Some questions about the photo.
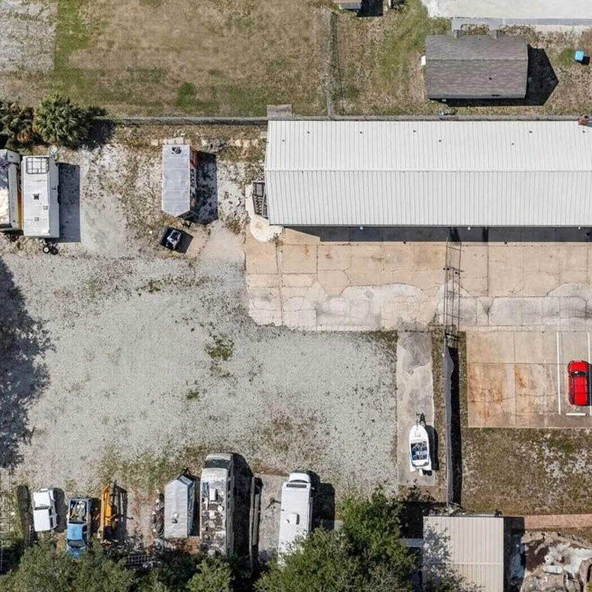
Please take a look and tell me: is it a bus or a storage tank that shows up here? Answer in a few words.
bus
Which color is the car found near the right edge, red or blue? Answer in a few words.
red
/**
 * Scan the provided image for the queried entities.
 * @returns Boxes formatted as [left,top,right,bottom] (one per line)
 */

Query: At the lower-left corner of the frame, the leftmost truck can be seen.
[28,487,56,538]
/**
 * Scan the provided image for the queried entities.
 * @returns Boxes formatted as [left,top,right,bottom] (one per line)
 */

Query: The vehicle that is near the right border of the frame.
[570,361,592,406]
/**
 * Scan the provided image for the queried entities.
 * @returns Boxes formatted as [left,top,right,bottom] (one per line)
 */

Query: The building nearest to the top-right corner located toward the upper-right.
[421,29,528,100]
